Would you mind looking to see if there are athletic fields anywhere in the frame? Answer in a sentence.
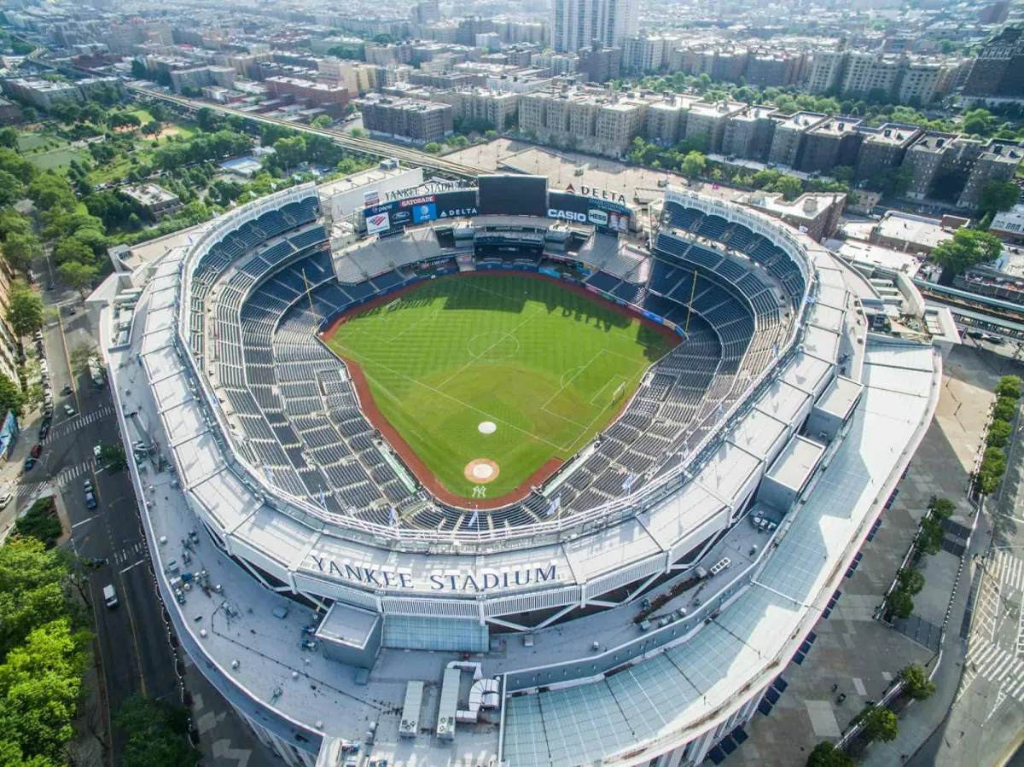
Yes, there is an athletic field in the image.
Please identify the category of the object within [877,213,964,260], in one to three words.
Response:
building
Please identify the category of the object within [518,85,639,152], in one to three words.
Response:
building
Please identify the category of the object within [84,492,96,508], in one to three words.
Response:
vehicle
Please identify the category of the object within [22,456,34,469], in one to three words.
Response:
vehicle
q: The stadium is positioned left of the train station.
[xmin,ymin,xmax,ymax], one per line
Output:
[85,157,962,767]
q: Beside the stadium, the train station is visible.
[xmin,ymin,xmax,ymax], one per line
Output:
[911,256,1024,351]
